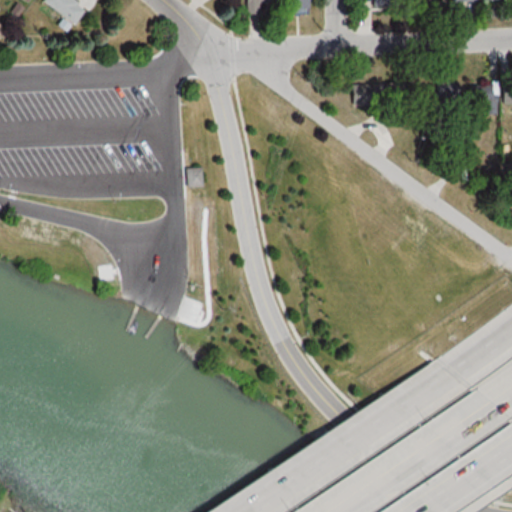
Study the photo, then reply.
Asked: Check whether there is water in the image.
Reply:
Yes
